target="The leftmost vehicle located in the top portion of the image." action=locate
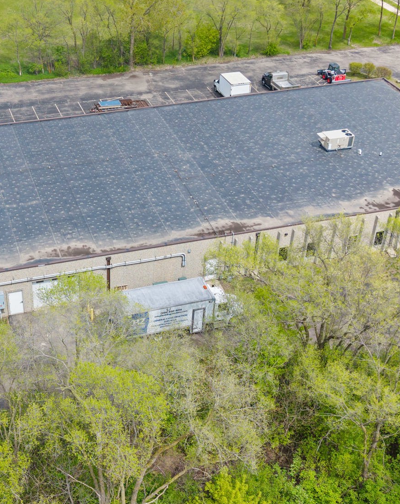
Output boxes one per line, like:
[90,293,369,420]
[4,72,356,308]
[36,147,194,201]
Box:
[209,68,253,97]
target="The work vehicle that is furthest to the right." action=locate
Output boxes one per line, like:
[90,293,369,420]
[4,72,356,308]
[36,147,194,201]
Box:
[315,62,345,84]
